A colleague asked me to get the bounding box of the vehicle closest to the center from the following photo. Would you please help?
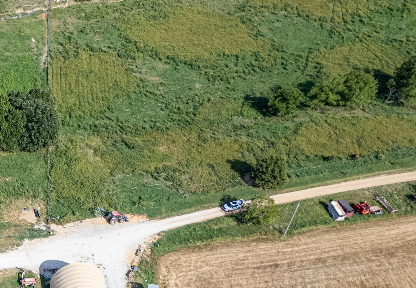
[222,192,250,209]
